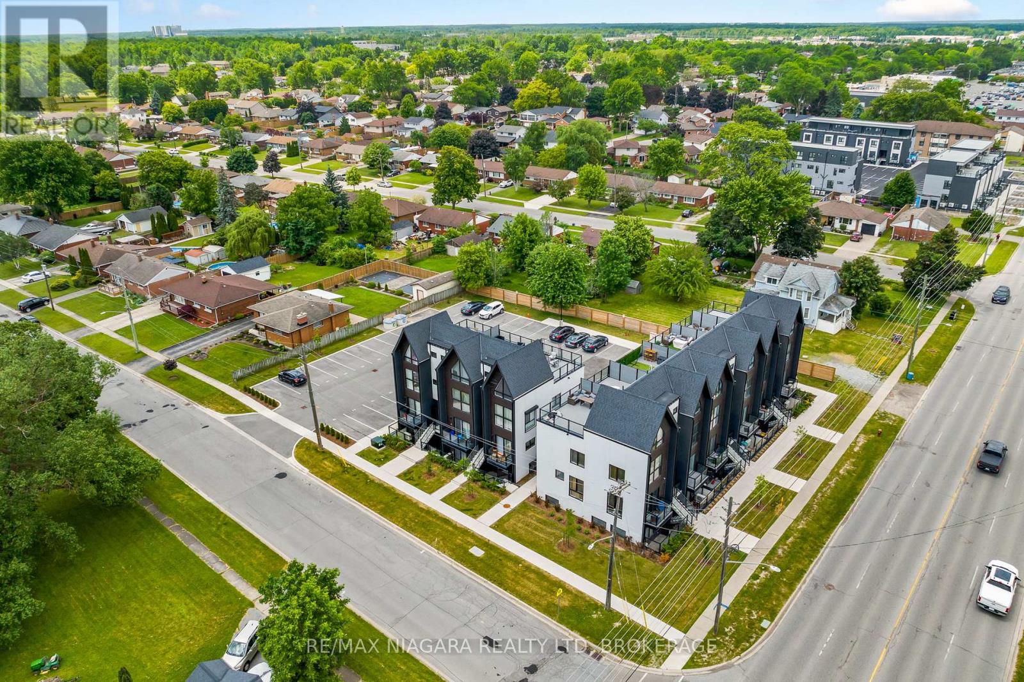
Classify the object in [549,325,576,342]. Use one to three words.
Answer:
car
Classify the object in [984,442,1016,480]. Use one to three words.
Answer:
truck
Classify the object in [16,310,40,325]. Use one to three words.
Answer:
car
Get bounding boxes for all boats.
[83,222,113,236]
